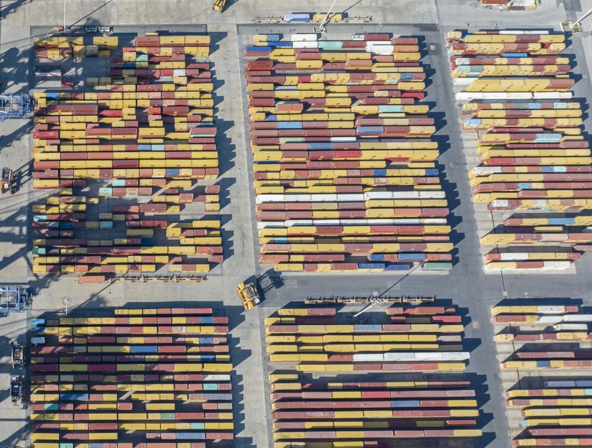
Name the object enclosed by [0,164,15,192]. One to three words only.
work vehicle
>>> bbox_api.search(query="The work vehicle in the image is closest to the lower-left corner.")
[11,376,24,407]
